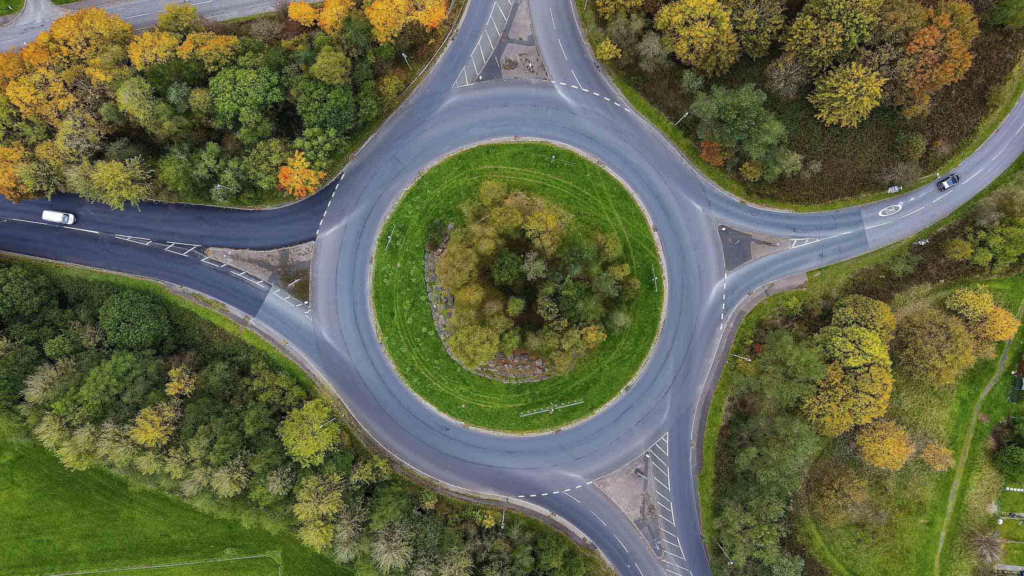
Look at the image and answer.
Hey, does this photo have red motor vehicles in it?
No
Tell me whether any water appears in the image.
No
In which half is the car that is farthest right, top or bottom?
top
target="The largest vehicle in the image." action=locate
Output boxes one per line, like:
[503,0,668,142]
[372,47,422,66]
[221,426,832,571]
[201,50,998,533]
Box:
[41,210,81,226]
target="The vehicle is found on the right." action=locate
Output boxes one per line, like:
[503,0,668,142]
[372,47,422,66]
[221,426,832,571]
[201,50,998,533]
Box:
[934,173,960,193]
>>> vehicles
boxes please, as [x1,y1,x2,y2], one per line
[934,173,960,193]
[41,210,81,226]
